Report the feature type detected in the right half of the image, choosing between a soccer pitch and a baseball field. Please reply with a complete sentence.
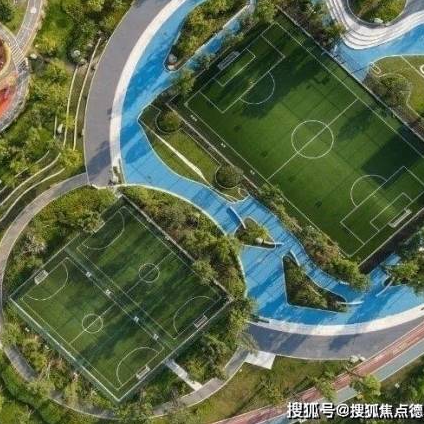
There is a soccer pitch in the right half of the image.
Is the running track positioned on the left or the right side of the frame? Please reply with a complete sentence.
The running track sits on the right side.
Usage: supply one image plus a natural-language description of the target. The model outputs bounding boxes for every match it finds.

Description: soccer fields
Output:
[168,5,424,269]
[71,195,230,347]
[11,244,178,399]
